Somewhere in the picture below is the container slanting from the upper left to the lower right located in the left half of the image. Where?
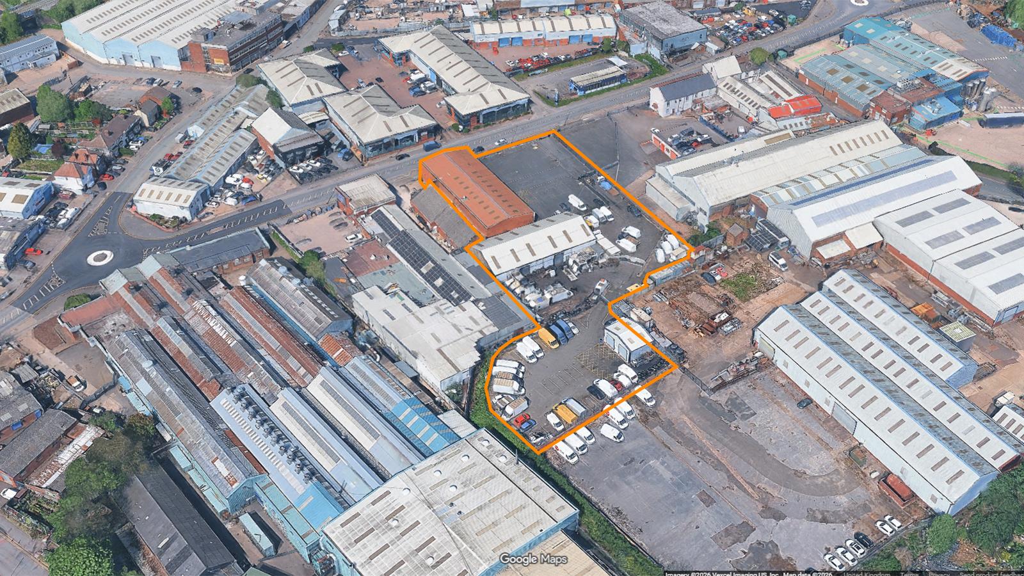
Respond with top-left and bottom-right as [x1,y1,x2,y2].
[239,513,276,561]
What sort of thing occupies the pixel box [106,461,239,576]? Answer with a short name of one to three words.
shed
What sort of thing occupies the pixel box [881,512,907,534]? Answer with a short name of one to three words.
car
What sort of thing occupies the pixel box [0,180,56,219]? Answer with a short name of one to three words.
building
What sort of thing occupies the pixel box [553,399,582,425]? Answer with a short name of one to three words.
truck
